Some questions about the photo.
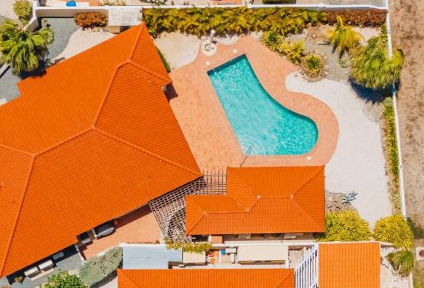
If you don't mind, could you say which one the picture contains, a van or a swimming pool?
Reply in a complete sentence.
The one in the frame is a swimming pool.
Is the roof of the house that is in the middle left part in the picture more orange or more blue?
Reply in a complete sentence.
From above, the roof of the house that is in the middle left part appears orange.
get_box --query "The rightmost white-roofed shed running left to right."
[237,246,287,264]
